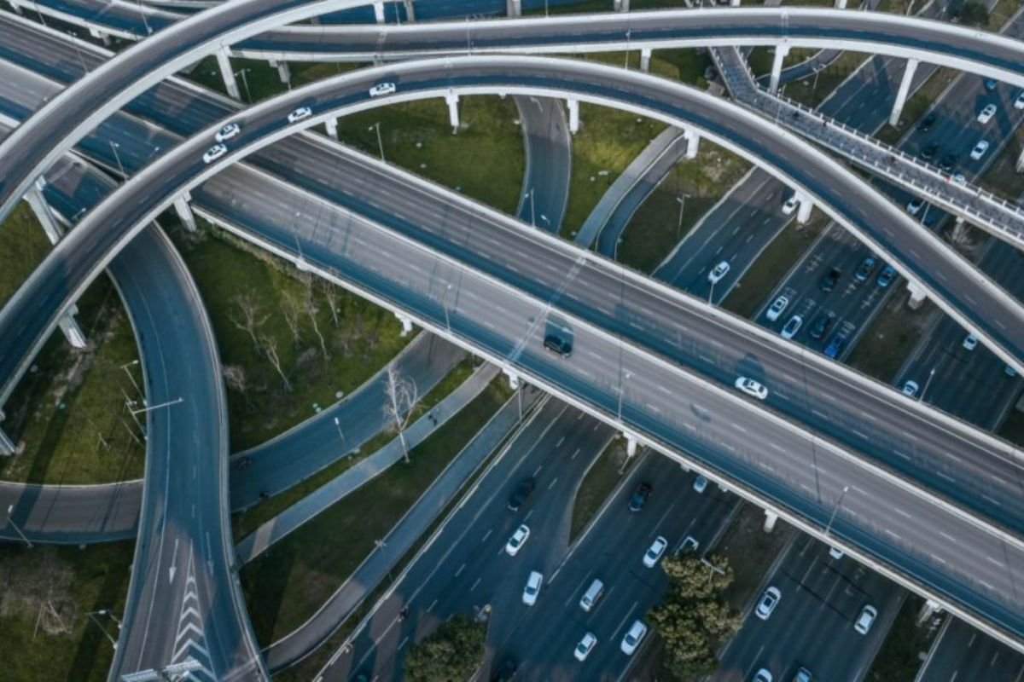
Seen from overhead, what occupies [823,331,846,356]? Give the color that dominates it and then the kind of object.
blue car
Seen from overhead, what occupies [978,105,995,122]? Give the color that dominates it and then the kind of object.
white car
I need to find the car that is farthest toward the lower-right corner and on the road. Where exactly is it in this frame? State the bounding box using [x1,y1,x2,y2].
[852,604,878,636]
